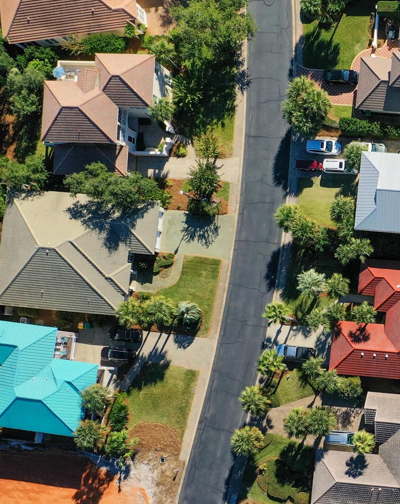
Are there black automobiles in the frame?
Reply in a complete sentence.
Yes, a black automobile is visible in the scene.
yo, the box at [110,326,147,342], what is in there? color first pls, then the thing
black car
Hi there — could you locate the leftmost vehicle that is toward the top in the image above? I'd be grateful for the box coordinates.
[293,156,323,173]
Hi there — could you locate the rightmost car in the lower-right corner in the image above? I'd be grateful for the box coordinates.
[324,430,357,447]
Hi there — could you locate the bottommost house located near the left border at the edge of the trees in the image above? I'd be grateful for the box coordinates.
[0,320,126,445]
